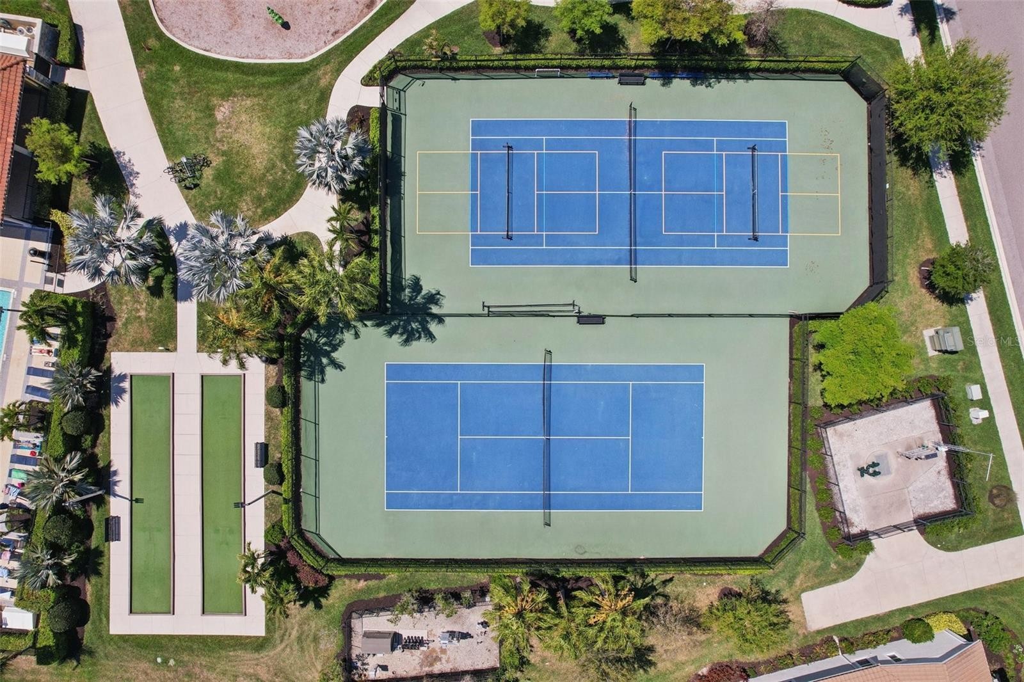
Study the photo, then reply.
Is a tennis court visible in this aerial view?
Yes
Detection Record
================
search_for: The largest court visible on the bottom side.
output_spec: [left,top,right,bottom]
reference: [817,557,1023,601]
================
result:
[301,315,791,559]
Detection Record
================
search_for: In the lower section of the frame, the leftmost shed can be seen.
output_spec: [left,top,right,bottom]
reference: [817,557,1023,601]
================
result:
[360,630,393,659]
